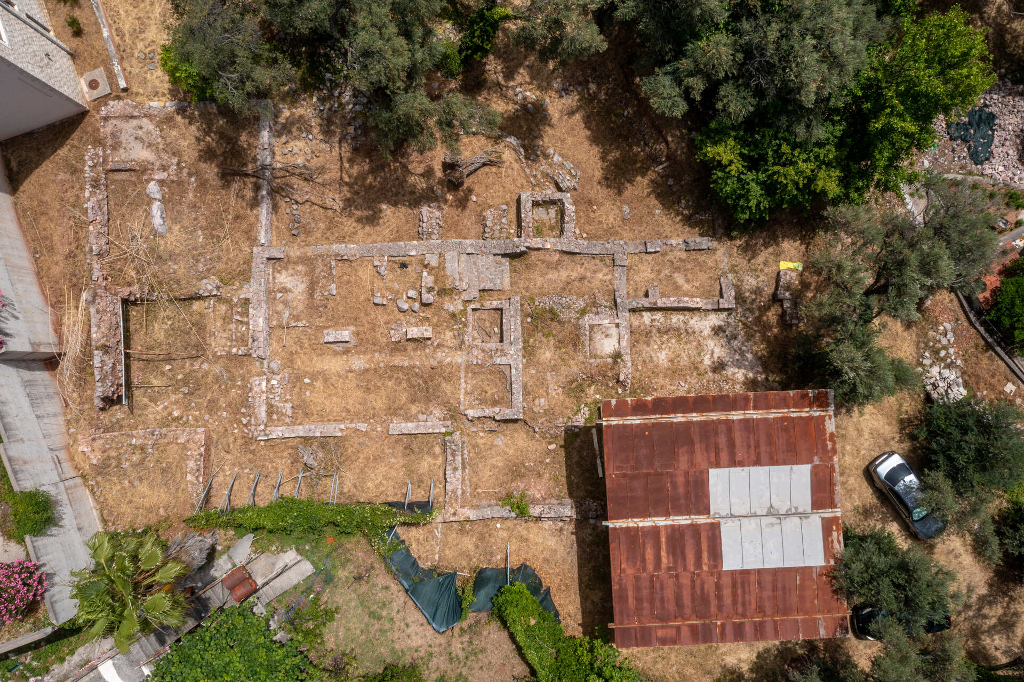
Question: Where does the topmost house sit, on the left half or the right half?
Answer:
left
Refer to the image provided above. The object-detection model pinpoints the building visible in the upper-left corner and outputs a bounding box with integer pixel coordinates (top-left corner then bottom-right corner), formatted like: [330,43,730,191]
[0,0,89,142]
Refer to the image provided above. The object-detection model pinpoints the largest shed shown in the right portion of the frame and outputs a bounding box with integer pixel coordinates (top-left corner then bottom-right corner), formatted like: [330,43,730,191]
[597,390,850,648]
